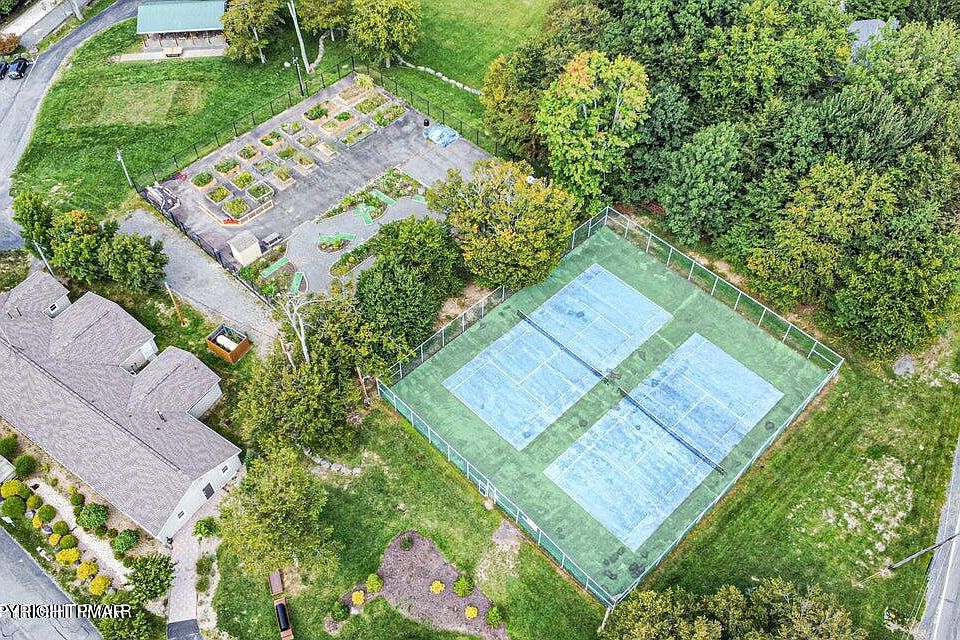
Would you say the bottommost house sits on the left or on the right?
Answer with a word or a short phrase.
left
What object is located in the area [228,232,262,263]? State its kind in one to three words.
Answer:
shed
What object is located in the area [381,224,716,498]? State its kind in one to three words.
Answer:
tennis court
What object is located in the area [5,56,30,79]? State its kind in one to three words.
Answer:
car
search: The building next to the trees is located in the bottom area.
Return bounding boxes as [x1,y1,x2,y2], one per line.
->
[0,271,245,543]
